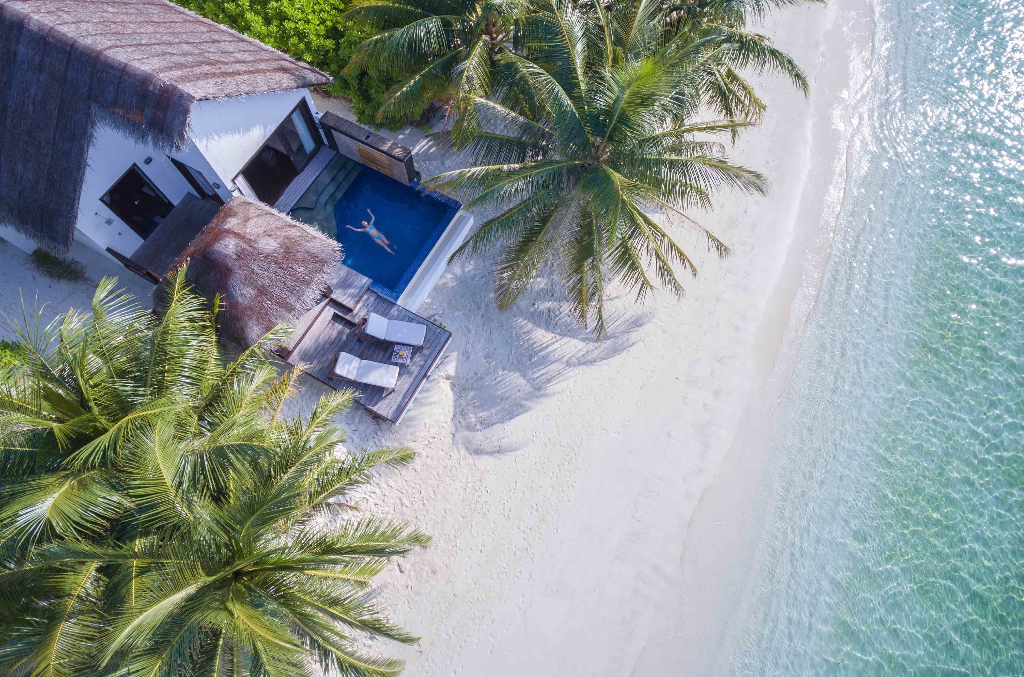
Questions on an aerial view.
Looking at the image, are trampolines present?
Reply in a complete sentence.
No, there's no trampoline here.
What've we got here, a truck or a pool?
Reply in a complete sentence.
This aerial view contains a pool.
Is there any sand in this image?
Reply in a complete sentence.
Yes, the picture does contain sand.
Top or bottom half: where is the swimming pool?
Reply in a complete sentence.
It is in the top half that the swimming pool appears.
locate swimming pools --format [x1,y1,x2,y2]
[293,150,480,316]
